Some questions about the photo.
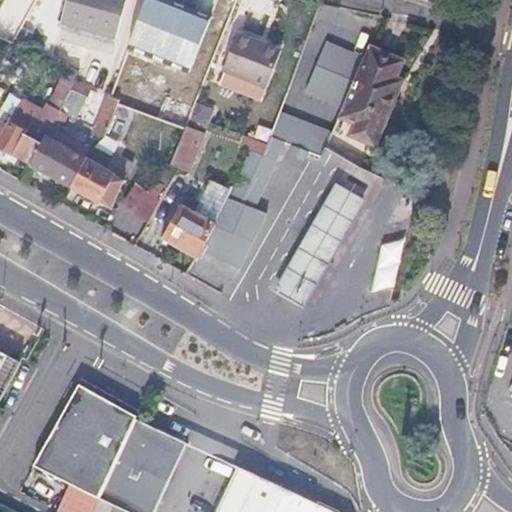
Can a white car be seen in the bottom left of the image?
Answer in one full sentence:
Yes, the scene does show a white car in the bottom left of the image.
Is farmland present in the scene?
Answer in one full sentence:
No, there's no farmland in this view.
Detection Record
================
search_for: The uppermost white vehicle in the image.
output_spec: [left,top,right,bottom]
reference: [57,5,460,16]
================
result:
[354,30,368,52]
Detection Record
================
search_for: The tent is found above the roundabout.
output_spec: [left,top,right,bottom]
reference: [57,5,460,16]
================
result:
[369,238,406,293]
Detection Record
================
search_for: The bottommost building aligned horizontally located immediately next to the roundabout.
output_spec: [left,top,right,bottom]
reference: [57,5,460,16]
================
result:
[212,463,334,512]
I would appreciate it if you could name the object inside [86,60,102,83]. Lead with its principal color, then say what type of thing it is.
white car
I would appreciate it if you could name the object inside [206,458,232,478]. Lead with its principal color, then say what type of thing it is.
white vehicle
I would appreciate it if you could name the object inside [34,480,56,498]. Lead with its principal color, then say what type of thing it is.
white car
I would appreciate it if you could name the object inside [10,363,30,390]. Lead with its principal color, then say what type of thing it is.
white vehicle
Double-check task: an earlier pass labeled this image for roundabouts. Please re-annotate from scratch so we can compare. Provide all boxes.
[326,315,490,512]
